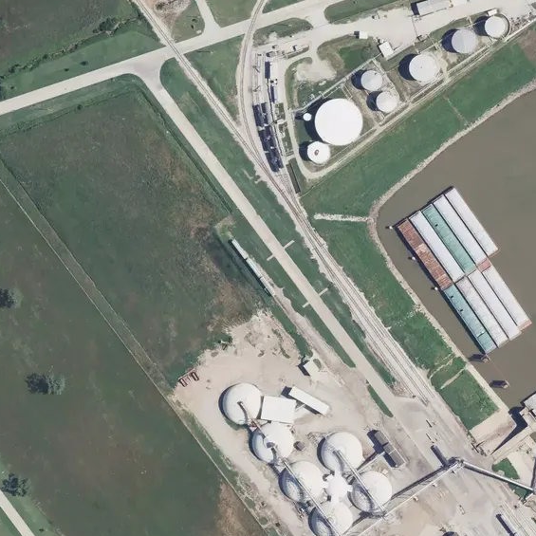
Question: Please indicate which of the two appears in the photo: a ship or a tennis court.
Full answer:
The one in the frame is a ship.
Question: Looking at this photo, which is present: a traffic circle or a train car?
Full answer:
Visible in the photo is a train car.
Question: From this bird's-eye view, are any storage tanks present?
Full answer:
Yes, you can see a storage tank in this photo.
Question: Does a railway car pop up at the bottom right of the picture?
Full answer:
Yes, looking at the bottom right of the picture, one can make out a railway car.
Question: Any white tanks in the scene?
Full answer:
Yes, a white tank appears in the view.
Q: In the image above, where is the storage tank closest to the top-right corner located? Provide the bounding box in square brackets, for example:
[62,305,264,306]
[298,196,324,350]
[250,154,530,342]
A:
[482,11,512,41]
